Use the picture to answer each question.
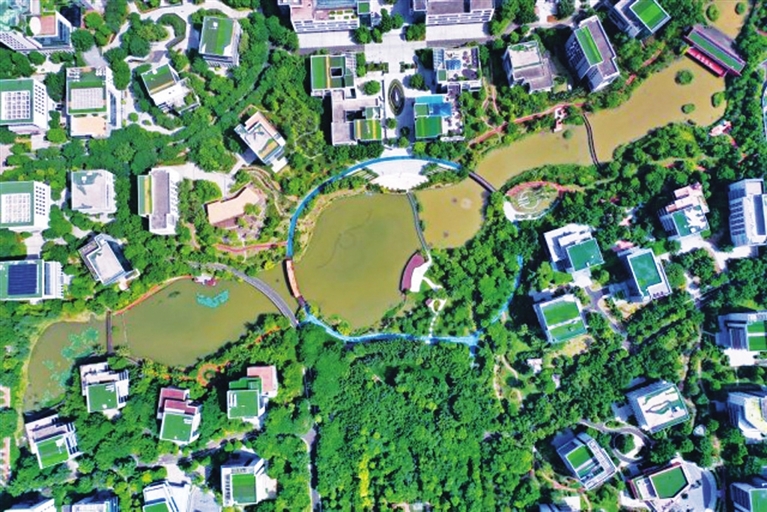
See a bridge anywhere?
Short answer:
Yes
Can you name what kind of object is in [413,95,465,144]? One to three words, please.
building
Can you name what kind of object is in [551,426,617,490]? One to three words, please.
building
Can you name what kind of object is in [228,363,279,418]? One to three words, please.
house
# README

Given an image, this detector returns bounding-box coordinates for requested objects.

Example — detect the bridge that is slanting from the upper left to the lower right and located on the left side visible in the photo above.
[213,263,300,329]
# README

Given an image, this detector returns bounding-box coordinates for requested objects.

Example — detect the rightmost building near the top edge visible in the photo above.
[592,0,671,44]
